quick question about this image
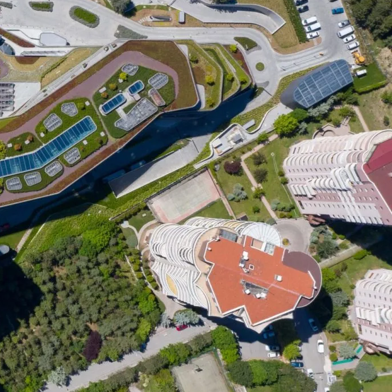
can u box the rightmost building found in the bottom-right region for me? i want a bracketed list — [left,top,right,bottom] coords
[349,262,392,356]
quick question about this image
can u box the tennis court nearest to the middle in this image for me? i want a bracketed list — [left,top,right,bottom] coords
[147,172,220,224]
